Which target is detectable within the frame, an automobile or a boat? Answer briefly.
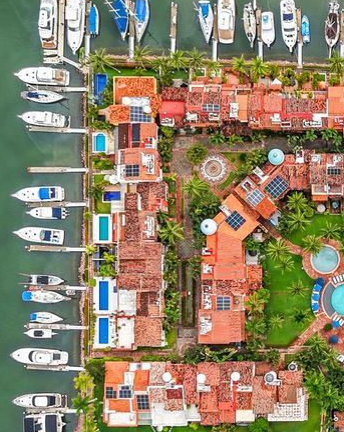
boat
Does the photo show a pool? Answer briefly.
Yes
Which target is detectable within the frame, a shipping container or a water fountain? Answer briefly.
water fountain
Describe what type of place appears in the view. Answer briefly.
residential area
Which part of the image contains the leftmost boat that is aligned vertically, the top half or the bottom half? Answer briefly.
top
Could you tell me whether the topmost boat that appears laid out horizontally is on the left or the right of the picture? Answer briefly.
left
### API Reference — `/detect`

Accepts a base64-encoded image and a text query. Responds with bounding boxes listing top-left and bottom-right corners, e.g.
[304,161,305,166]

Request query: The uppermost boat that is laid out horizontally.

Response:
[13,62,71,86]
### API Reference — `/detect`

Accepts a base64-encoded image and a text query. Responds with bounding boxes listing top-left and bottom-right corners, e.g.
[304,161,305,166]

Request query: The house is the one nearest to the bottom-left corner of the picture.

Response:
[104,360,158,426]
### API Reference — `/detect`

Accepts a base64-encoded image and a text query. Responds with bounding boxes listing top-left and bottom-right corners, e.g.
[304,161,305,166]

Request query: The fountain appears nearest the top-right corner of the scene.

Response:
[197,152,229,184]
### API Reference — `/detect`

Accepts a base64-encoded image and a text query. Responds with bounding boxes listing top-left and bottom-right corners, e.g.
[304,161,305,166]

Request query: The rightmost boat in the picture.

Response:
[324,2,339,57]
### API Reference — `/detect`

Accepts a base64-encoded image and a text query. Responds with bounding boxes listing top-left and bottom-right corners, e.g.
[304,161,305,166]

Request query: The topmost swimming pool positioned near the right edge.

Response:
[310,245,340,275]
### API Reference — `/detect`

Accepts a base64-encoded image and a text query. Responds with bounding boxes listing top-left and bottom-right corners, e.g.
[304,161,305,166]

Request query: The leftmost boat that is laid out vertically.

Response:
[36,0,60,51]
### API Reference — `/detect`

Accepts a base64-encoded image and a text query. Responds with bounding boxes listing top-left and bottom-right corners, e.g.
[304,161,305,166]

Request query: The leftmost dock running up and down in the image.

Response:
[59,0,85,71]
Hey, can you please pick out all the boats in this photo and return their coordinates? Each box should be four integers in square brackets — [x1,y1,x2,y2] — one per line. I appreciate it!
[28,275,64,287]
[122,0,149,43]
[300,16,310,46]
[61,0,87,52]
[260,10,275,47]
[12,225,67,245]
[9,393,66,409]
[25,328,56,339]
[16,111,72,129]
[10,185,67,203]
[324,2,339,57]
[88,4,100,39]
[25,207,67,221]
[23,415,70,432]
[36,0,60,51]
[7,347,73,366]
[240,5,256,47]
[192,2,212,43]
[215,0,236,48]
[21,290,71,302]
[102,0,129,41]
[13,62,71,86]
[21,83,63,103]
[27,312,63,324]
[280,0,299,51]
